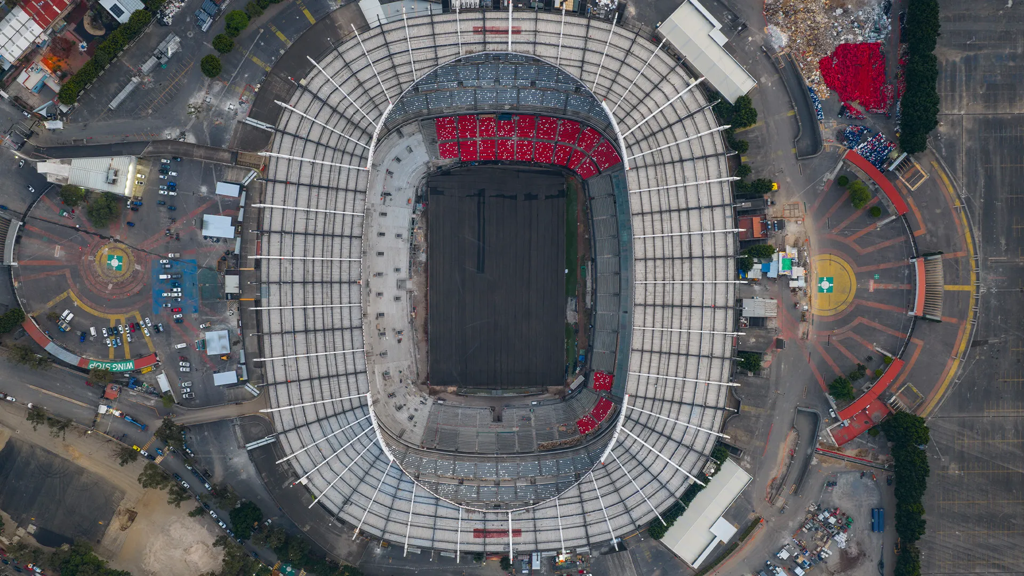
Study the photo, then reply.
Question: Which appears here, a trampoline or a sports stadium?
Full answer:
Of the two, only a sports stadium appears.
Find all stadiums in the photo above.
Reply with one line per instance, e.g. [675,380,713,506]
[247,2,749,565]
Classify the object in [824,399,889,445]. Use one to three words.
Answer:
building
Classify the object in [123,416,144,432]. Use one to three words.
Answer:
vehicle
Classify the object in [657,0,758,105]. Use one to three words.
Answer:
building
